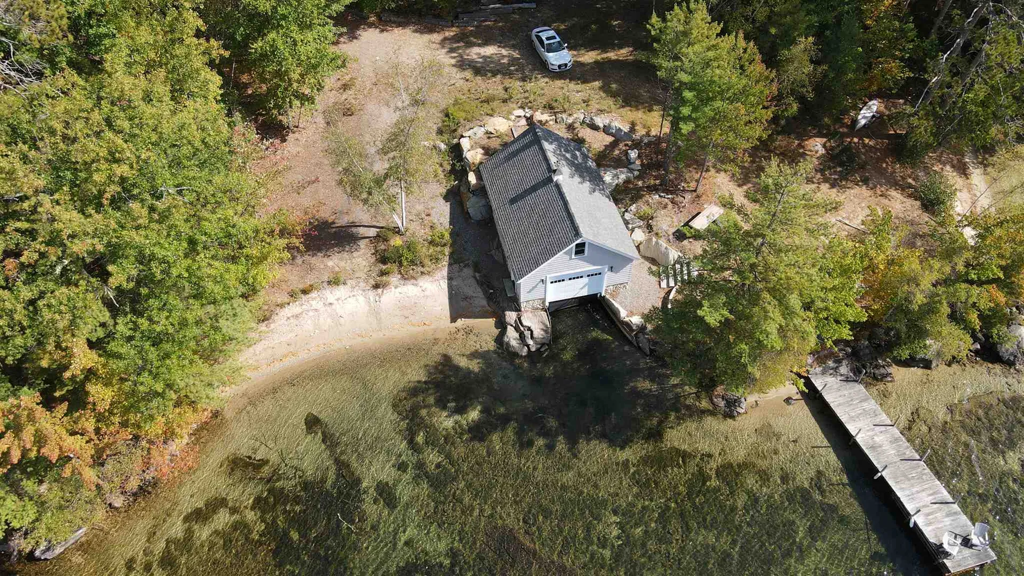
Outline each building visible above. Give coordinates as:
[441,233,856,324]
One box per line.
[479,125,641,310]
